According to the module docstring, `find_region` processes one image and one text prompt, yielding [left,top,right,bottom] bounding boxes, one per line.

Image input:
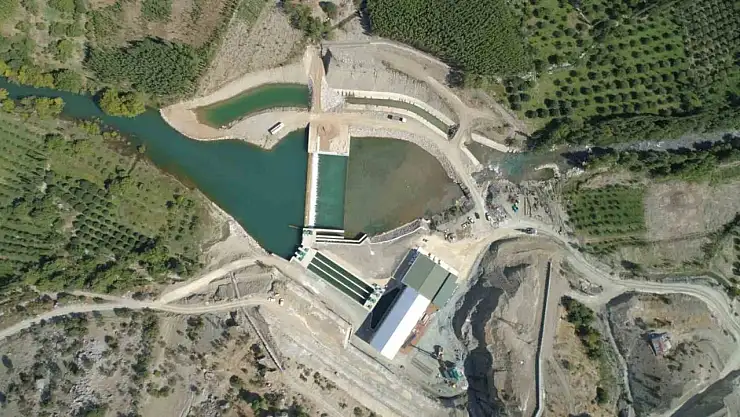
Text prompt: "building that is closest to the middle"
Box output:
[401,252,452,301]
